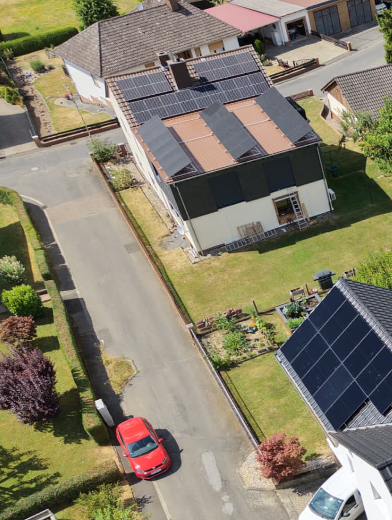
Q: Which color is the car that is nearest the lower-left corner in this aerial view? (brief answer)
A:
red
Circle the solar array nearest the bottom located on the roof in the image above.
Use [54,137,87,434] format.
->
[284,285,392,432]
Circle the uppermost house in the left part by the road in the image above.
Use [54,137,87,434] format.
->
[58,0,243,106]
